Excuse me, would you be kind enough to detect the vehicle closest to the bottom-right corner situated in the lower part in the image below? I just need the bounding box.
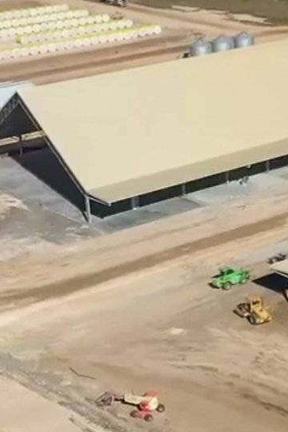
[230,296,272,323]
